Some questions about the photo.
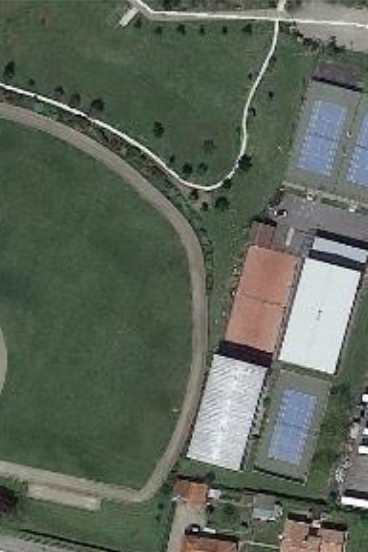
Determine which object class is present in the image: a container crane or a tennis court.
tennis court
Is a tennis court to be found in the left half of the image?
No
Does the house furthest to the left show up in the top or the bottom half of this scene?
bottom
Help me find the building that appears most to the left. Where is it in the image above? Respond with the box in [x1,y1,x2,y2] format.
[174,480,207,502]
